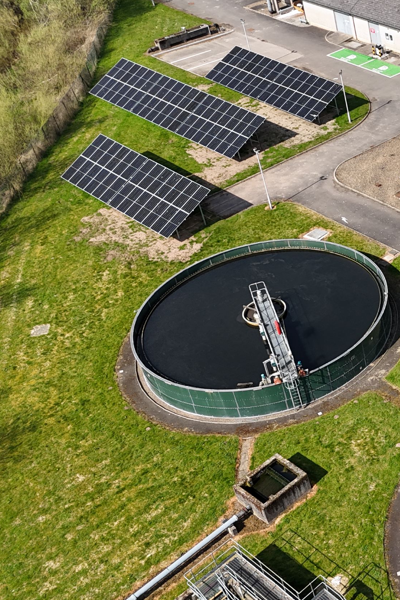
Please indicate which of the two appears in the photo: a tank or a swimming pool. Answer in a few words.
tank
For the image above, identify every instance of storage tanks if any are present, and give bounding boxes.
[132,239,390,417]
